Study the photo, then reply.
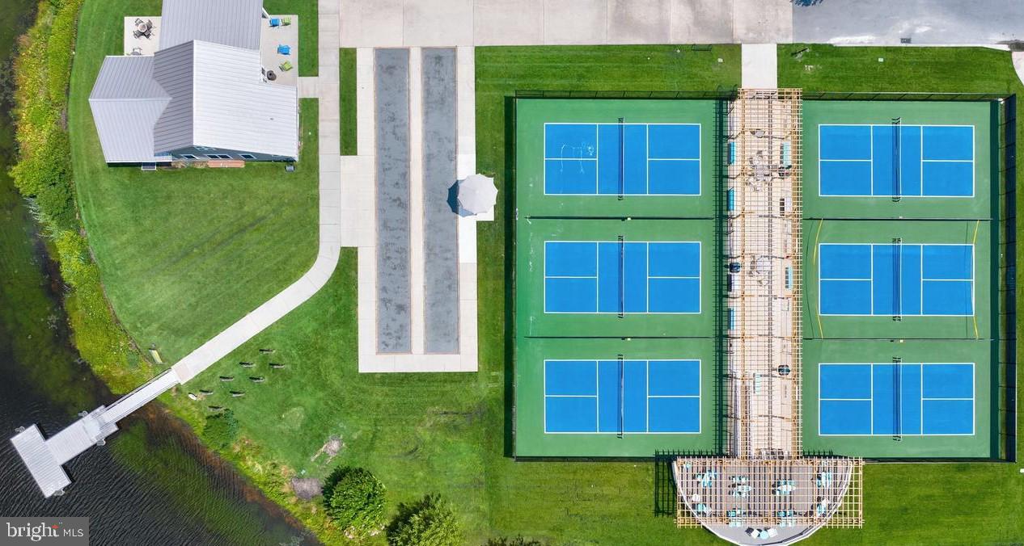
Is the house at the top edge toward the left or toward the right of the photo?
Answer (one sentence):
The house at the top edge sits on the left side.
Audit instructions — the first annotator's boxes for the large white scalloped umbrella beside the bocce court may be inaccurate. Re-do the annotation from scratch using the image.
[455,173,499,216]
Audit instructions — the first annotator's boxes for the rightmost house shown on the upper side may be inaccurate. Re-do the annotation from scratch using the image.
[89,0,302,169]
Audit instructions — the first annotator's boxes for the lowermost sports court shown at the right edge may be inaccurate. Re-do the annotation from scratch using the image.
[797,339,1000,457]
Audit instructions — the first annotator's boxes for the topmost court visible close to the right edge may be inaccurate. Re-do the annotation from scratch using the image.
[797,100,1000,219]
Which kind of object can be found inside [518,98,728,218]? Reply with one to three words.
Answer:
sports court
